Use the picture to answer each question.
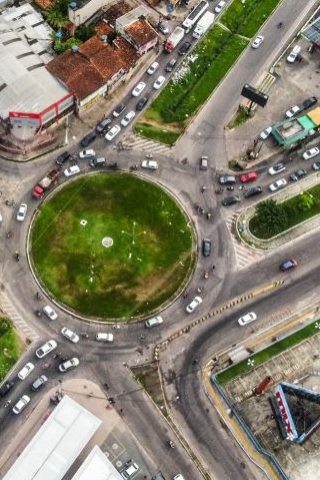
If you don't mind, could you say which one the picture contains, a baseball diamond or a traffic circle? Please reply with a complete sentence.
Visible in the photo is a traffic circle.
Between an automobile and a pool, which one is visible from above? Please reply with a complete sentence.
I can see an automobile in this picture.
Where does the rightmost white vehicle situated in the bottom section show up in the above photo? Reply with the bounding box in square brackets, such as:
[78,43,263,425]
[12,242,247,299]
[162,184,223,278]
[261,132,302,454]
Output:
[236,313,258,326]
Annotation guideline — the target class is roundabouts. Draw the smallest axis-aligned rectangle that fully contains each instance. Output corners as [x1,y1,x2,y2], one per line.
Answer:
[30,172,196,323]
